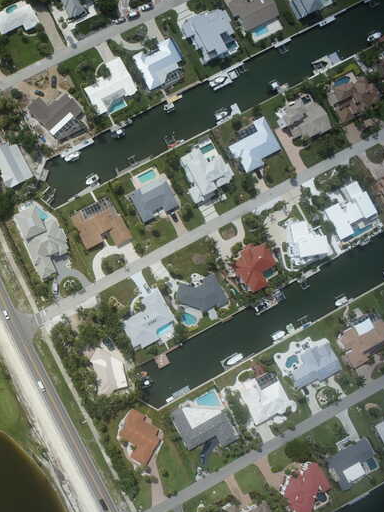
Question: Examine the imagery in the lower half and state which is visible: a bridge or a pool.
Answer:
pool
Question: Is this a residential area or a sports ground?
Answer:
residential area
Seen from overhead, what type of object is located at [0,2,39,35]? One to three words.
house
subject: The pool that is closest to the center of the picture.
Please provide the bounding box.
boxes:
[177,306,203,328]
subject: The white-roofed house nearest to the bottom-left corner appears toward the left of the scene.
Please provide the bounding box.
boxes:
[91,349,128,394]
